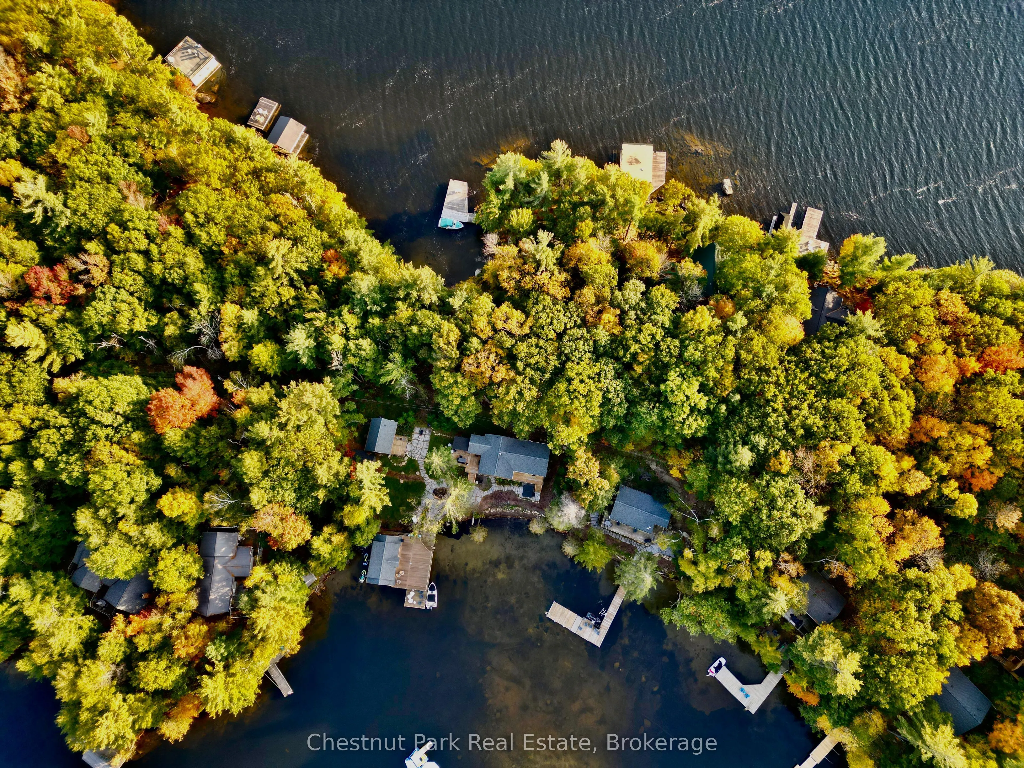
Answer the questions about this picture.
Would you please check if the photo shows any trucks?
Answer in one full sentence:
No, the photo shows no truck.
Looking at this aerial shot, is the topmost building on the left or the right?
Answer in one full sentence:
The topmost building sits on the left side.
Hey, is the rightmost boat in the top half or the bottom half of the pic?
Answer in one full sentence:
It is in the bottom half that the rightmost boat appears.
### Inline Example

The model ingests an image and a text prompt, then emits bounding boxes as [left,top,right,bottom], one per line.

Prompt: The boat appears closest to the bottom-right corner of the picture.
[706,658,726,678]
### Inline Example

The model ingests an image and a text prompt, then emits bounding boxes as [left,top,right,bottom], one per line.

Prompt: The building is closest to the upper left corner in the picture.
[163,34,215,82]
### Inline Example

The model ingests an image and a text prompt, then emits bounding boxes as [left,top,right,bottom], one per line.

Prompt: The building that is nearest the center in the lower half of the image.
[451,434,551,492]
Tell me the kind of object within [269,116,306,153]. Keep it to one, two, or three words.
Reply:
building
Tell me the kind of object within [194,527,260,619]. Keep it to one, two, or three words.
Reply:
house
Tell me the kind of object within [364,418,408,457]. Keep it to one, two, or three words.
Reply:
house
